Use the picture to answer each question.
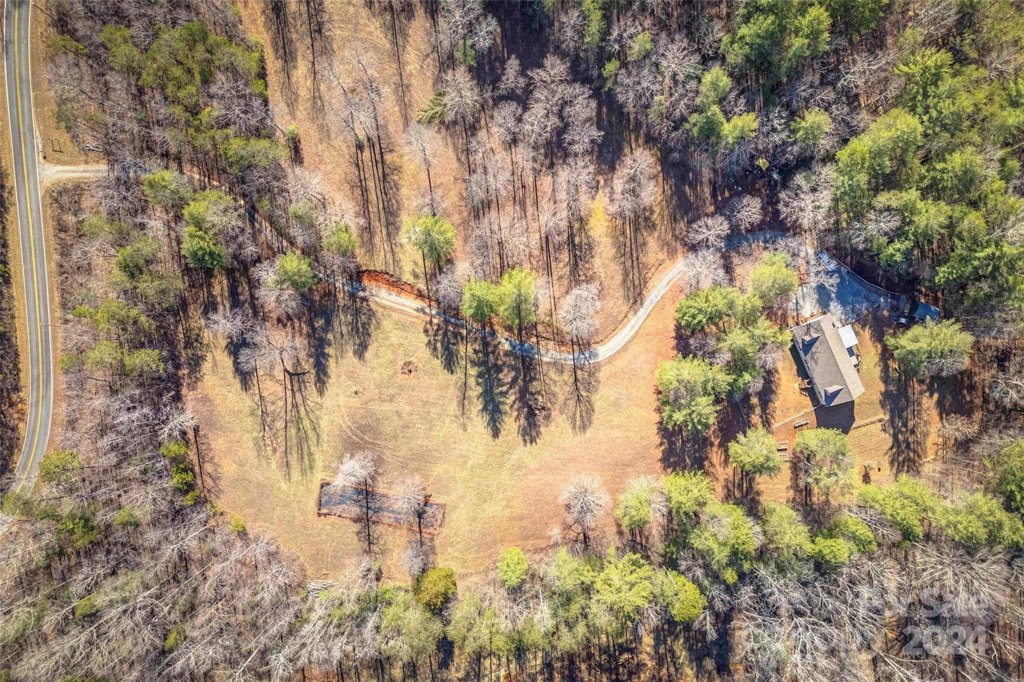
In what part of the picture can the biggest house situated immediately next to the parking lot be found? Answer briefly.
right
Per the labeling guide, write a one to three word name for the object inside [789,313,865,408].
house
